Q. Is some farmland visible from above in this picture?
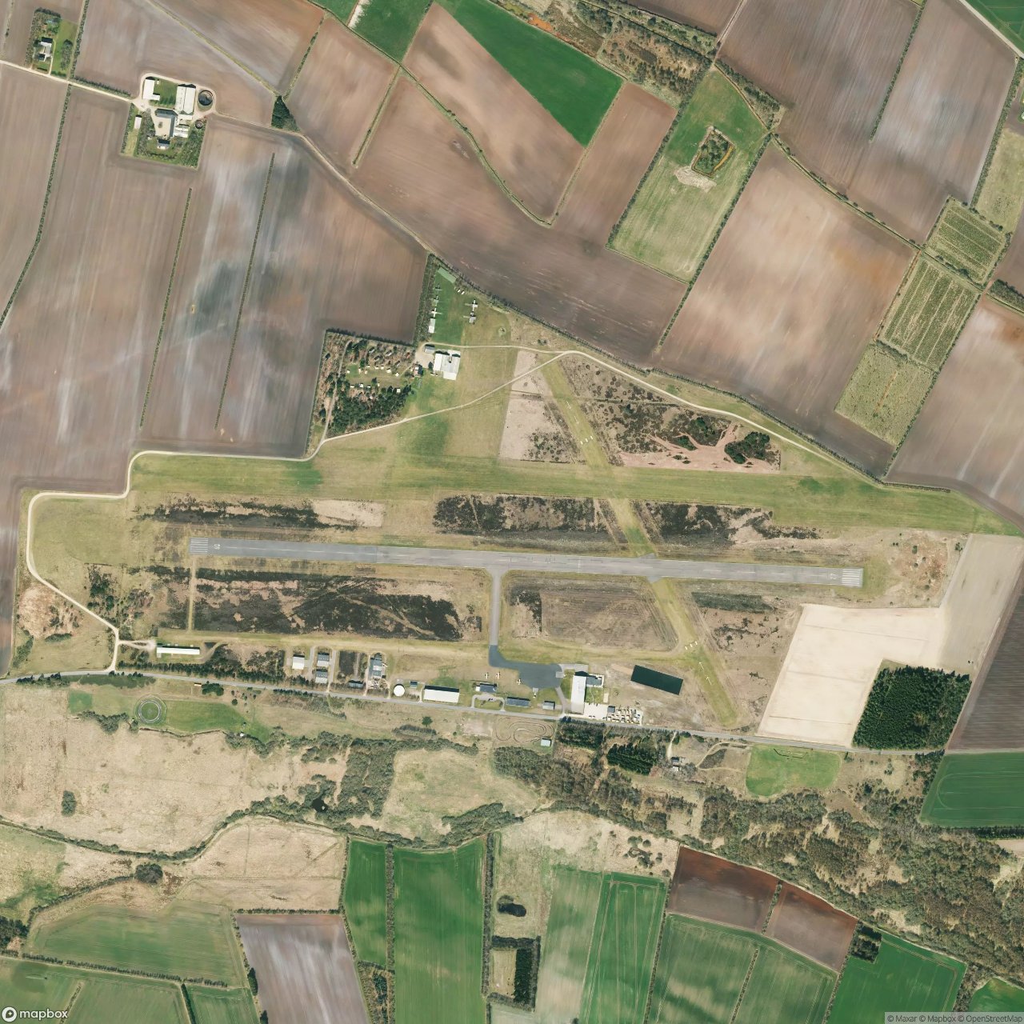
Yes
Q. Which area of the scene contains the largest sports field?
bottom right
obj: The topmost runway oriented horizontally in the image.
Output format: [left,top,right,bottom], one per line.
[133,464,1006,530]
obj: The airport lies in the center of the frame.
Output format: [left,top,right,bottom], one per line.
[24,267,1019,731]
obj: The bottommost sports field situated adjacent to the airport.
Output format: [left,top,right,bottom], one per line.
[746,746,840,797]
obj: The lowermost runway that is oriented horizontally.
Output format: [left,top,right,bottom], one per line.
[188,537,863,587]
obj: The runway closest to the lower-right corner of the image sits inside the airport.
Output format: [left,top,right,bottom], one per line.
[650,581,733,725]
